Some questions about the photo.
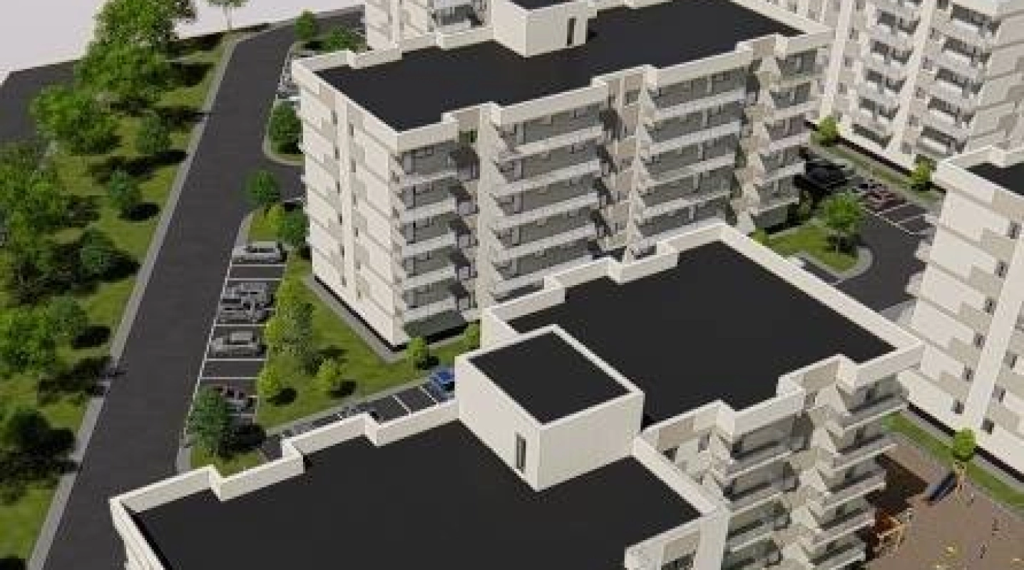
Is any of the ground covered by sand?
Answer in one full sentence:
No, the picture contains no sand.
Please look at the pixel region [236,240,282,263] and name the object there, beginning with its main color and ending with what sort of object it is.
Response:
gray car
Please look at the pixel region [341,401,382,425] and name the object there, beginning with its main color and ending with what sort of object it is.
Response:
gray car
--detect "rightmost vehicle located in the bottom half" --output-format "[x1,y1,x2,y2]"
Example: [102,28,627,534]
[427,374,460,404]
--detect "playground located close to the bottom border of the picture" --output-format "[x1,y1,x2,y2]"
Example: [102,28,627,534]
[850,442,1024,570]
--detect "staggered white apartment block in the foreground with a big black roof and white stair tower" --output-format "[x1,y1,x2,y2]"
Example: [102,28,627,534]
[109,222,926,570]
